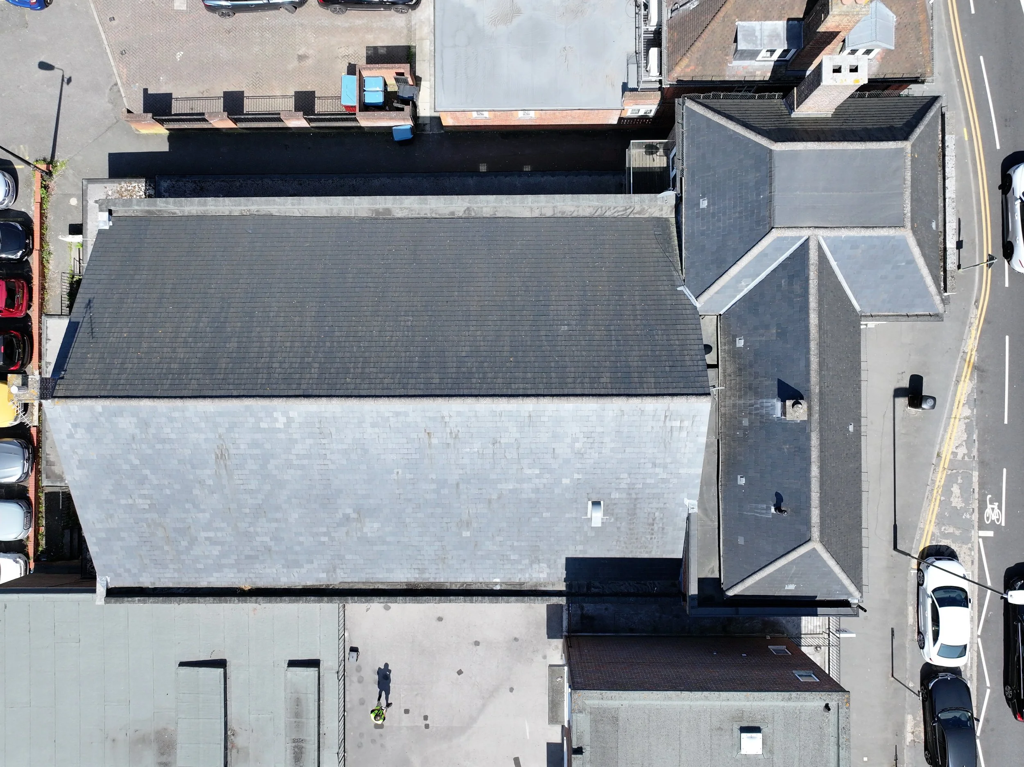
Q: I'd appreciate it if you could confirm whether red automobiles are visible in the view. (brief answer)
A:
Yes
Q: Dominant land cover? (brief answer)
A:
buildings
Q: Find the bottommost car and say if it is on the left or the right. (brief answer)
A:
right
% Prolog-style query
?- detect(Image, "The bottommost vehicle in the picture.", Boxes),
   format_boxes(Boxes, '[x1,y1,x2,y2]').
[922,668,988,767]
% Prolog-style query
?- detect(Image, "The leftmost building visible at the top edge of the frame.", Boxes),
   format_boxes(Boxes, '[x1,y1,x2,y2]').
[434,0,643,130]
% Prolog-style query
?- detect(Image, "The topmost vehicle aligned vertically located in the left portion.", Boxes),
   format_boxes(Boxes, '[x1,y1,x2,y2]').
[0,171,20,213]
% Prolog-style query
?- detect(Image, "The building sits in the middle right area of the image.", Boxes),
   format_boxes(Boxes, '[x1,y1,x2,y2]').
[665,53,957,617]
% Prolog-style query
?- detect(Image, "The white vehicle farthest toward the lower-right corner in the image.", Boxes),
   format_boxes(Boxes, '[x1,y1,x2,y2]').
[916,554,978,667]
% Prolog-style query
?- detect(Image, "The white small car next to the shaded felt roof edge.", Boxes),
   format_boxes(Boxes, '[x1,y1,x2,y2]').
[0,550,33,588]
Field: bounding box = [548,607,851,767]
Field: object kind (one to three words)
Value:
building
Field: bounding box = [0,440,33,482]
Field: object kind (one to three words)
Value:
car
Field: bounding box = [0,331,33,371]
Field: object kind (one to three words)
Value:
car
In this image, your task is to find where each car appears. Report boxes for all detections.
[1001,166,1024,275]
[0,550,33,588]
[0,223,34,265]
[0,497,38,539]
[0,383,26,424]
[1004,585,1024,713]
[0,440,33,482]
[317,0,419,14]
[1,0,53,12]
[0,278,32,319]
[0,331,33,371]
[0,171,20,213]
[916,554,978,667]
[922,668,988,767]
